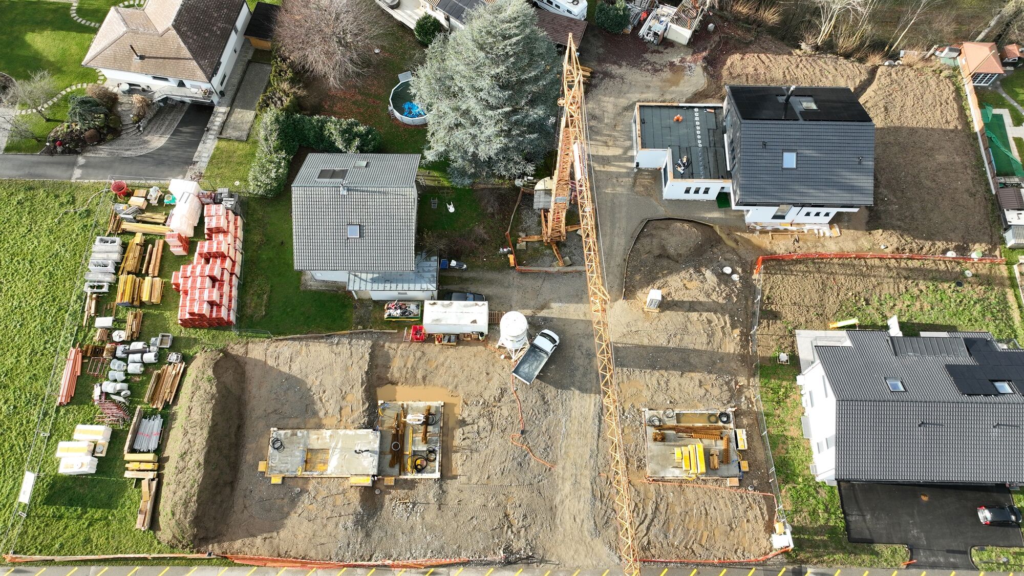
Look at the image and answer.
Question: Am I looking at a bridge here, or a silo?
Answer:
silo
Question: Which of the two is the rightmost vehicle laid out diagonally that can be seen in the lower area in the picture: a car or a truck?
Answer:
truck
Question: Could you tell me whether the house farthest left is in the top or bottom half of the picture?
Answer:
top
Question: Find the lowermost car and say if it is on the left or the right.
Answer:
right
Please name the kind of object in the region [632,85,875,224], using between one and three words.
house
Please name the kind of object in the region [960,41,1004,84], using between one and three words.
building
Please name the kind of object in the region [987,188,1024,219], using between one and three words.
shed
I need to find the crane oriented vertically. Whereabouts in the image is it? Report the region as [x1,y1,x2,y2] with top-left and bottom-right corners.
[520,32,647,576]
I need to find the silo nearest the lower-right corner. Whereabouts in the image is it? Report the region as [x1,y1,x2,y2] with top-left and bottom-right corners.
[495,312,530,368]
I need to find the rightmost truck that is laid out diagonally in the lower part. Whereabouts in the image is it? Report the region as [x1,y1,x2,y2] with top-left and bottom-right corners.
[509,331,560,389]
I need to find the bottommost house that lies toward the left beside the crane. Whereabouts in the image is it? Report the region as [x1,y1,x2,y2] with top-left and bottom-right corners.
[291,153,442,301]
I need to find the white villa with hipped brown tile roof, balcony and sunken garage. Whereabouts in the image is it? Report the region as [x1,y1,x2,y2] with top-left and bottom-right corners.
[81,0,258,110]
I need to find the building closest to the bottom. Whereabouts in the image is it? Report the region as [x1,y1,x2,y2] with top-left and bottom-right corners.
[795,315,1024,487]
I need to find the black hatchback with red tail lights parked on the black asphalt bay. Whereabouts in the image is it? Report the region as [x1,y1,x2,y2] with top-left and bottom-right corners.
[974,501,1023,527]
